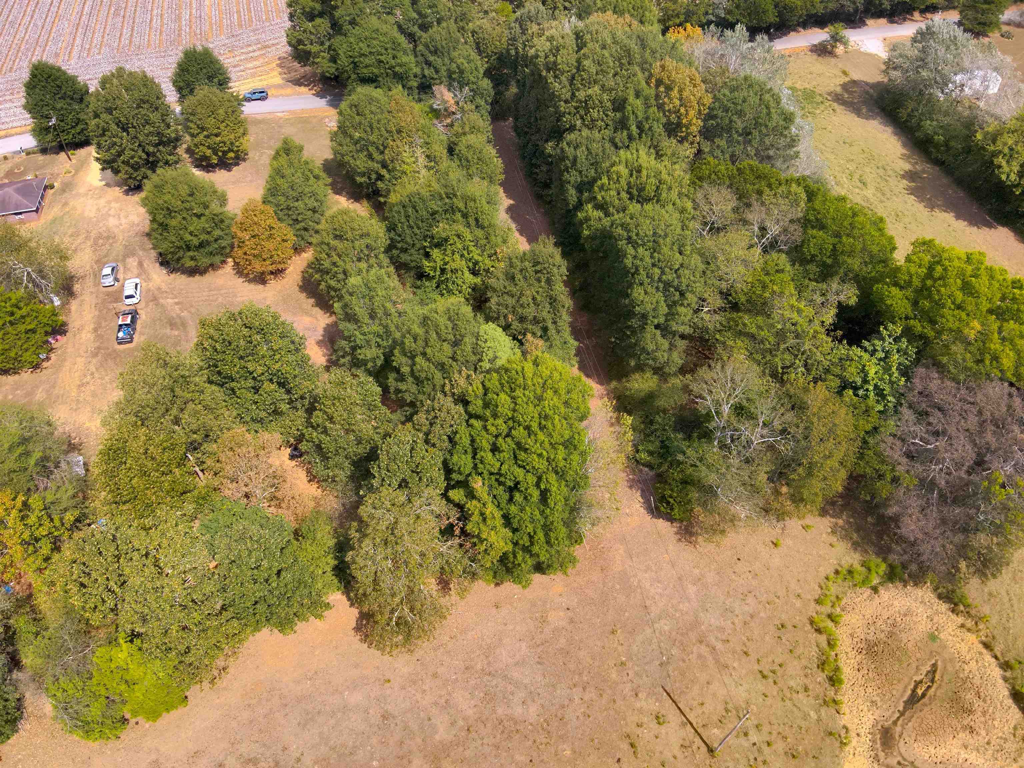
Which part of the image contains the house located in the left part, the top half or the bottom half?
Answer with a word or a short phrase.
top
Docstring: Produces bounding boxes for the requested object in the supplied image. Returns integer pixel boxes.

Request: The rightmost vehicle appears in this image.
[242,87,268,102]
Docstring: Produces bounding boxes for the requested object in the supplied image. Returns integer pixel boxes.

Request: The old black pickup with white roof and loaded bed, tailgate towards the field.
[114,311,142,347]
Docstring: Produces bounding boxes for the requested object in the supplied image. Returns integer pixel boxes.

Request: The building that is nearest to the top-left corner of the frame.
[0,177,51,232]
